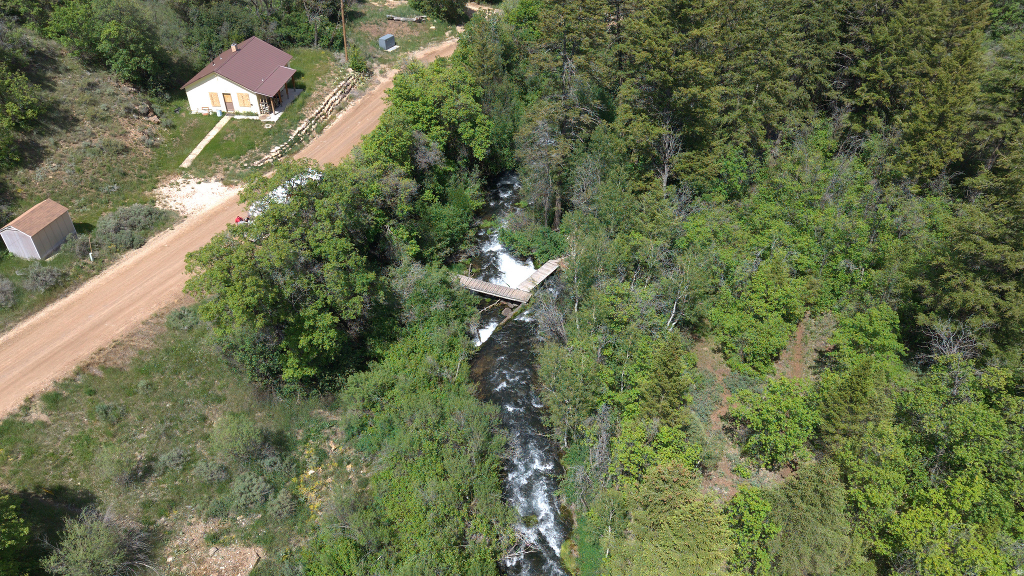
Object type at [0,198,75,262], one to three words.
shed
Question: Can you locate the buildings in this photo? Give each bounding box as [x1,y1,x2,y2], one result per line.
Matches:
[0,198,75,262]
[180,37,304,123]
